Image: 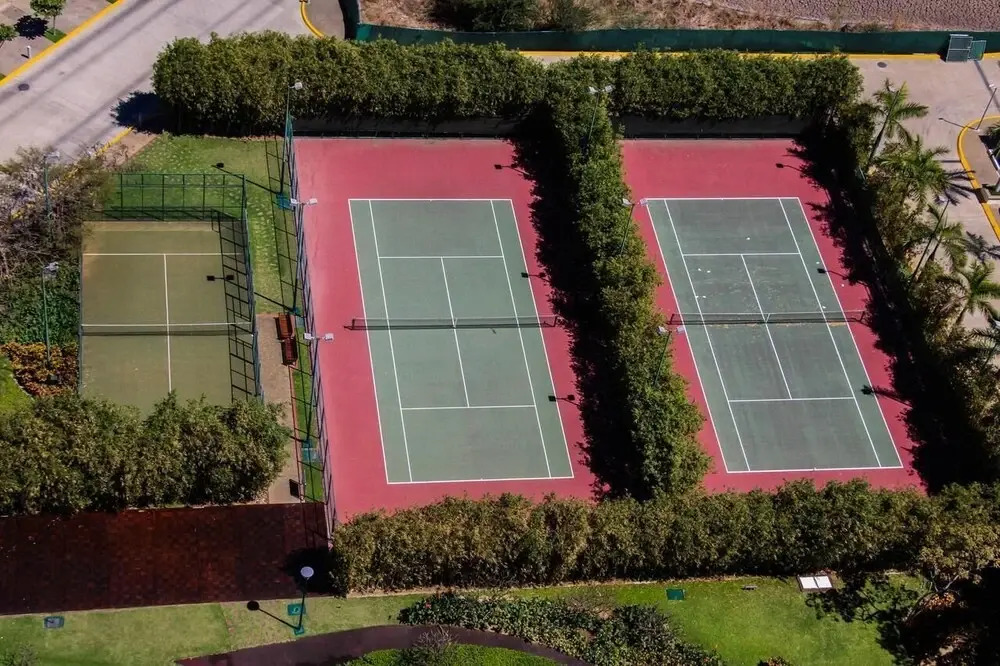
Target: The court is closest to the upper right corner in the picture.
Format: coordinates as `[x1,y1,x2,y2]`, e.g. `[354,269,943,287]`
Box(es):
[613,138,949,514]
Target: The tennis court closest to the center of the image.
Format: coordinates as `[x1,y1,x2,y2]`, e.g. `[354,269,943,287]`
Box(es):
[293,138,635,549]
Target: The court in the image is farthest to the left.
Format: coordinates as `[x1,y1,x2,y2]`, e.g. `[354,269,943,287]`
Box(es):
[79,221,260,421]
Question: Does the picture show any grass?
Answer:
Yes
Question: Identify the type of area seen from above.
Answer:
sports ground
